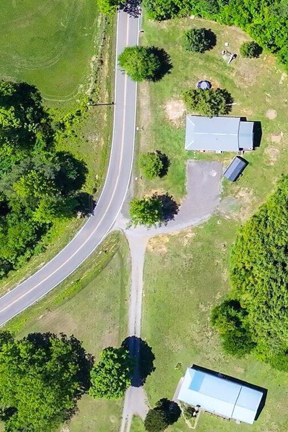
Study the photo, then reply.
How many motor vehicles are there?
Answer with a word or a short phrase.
none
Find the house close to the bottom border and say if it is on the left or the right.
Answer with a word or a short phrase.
right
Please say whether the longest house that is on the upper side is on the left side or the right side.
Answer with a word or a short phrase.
right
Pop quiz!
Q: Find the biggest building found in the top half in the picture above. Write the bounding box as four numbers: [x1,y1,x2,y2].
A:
[185,115,253,153]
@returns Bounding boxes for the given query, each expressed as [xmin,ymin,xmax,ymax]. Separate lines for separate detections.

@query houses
[178,367,263,424]
[185,115,253,153]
